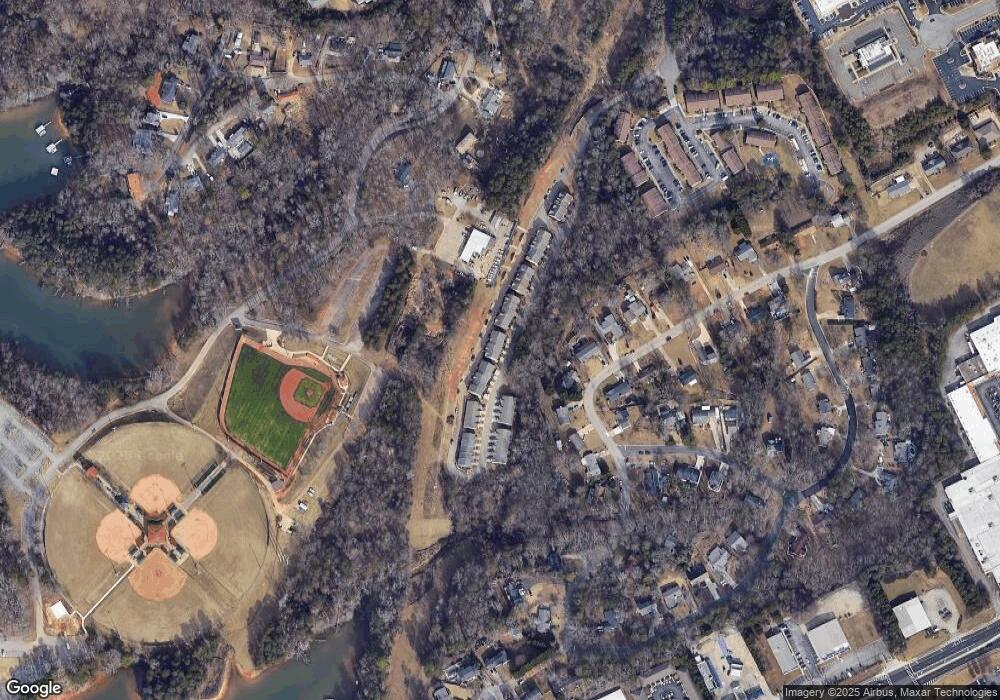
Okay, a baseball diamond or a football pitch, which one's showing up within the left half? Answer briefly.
baseball diamond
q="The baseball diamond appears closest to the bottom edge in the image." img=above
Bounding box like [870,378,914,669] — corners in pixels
[85,545,232,645]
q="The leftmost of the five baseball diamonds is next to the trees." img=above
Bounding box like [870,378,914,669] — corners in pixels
[45,458,146,606]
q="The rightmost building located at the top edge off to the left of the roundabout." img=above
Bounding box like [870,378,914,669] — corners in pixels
[853,27,895,72]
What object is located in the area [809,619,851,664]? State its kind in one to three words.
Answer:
building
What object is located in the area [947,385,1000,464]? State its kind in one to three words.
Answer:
building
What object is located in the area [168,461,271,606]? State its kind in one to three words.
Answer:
baseball field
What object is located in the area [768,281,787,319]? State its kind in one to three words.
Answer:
house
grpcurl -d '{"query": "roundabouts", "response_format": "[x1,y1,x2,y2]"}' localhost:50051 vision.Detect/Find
[919,15,953,50]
